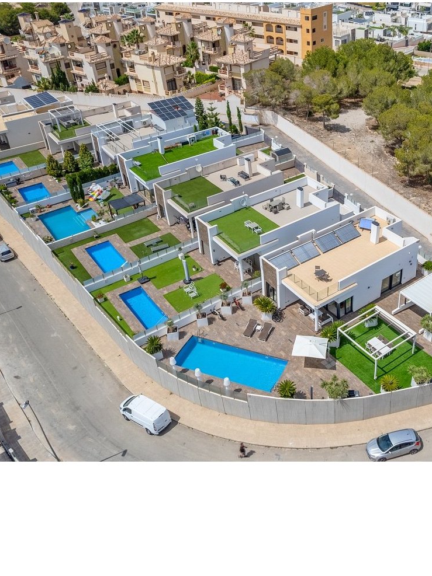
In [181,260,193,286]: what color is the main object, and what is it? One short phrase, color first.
gray umbrella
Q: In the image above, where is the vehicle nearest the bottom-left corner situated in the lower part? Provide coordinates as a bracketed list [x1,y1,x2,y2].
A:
[117,395,177,437]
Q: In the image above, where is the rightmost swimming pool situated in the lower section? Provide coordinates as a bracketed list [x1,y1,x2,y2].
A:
[177,331,288,392]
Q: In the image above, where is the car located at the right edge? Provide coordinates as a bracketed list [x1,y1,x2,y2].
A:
[366,422,424,457]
